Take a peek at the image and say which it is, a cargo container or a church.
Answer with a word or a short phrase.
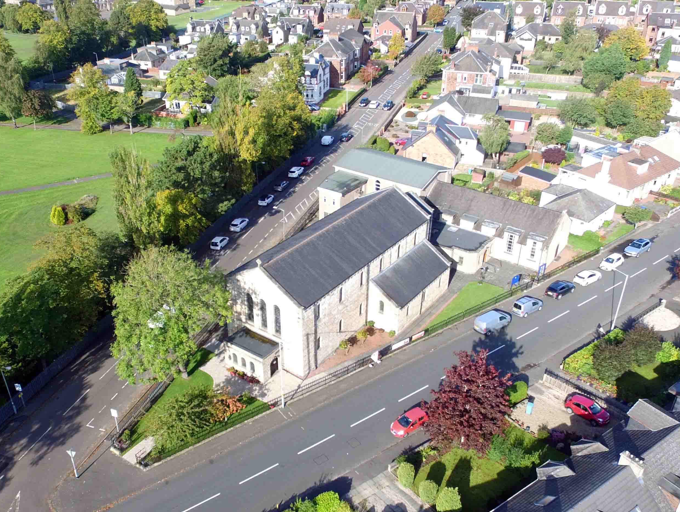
church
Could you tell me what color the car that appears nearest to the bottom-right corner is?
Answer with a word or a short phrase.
red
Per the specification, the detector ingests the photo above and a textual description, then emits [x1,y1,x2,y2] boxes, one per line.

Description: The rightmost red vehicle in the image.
[566,392,610,422]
